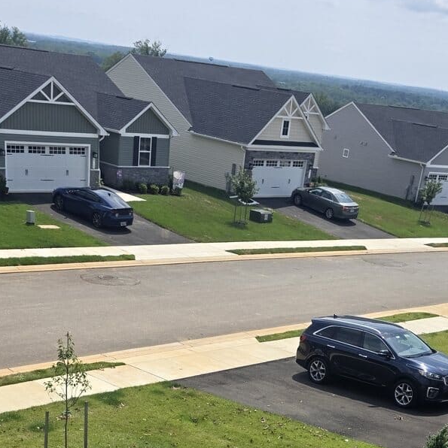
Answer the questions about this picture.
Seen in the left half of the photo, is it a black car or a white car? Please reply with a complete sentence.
There is a black car in the left half of the photo.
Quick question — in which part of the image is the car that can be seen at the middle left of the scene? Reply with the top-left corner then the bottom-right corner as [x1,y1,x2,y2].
[54,188,141,227]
